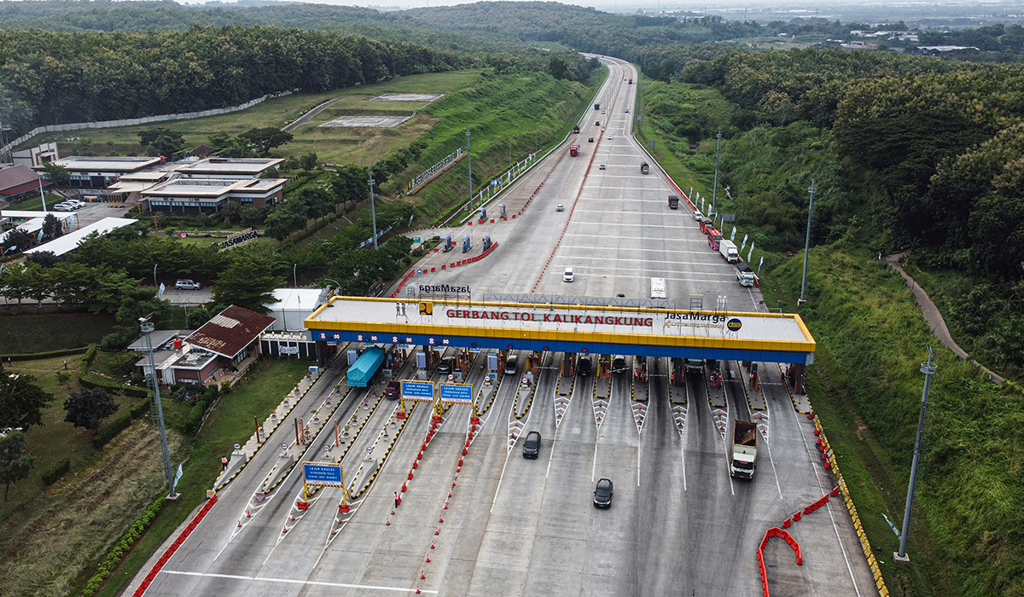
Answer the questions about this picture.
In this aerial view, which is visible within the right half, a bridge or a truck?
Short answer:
truck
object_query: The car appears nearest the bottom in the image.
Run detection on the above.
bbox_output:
[595,476,616,507]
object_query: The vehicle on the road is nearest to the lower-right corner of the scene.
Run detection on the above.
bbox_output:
[725,425,757,478]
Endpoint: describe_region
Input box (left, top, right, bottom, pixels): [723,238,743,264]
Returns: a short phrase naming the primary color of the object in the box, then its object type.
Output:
white vehicle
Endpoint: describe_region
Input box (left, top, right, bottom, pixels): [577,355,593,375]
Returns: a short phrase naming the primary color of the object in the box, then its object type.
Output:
black car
